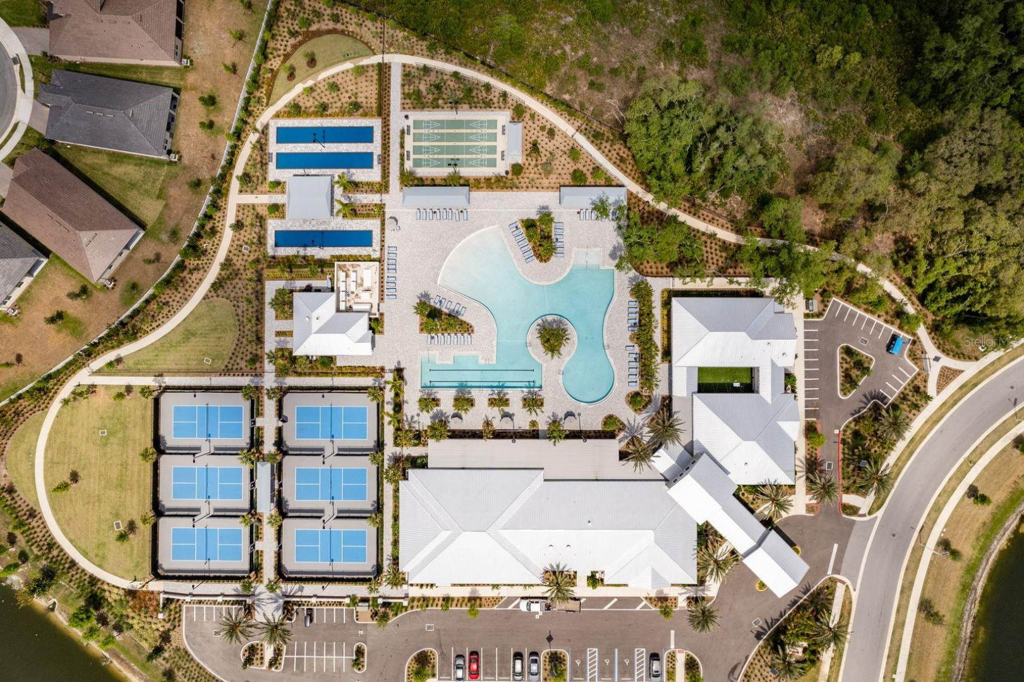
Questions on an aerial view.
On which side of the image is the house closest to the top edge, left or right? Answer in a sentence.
The house closest to the top edge appears in the left half of the scene.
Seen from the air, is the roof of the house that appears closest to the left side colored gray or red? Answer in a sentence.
The roof of the house that appears closest to the left side looks gray in the image.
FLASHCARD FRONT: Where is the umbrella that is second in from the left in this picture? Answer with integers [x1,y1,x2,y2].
[450,414,464,427]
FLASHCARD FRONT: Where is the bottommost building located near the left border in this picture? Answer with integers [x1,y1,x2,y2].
[0,219,57,306]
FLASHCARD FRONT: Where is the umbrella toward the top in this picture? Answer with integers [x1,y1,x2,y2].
[384,219,397,233]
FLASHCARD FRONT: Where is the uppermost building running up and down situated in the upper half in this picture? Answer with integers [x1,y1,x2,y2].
[509,122,522,157]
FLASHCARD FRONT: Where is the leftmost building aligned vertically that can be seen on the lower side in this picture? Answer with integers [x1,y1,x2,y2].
[257,462,274,512]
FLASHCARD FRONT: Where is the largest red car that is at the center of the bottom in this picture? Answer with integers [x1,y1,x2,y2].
[468,654,480,679]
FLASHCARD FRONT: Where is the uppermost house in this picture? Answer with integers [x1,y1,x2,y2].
[49,0,190,65]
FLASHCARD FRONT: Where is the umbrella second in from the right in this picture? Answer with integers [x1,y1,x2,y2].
[500,414,514,427]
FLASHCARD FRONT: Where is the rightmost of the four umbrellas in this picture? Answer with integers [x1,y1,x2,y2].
[563,414,577,427]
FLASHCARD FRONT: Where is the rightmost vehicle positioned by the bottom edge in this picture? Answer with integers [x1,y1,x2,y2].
[650,654,662,679]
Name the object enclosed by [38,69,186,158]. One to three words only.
house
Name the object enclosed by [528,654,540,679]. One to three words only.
vehicle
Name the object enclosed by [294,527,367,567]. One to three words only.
sports court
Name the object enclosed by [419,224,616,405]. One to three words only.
swimming pool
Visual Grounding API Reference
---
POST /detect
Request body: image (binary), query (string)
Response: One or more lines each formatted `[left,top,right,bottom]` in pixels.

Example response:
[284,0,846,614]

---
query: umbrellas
[384,219,397,233]
[563,414,577,427]
[500,414,514,427]
[450,414,464,427]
